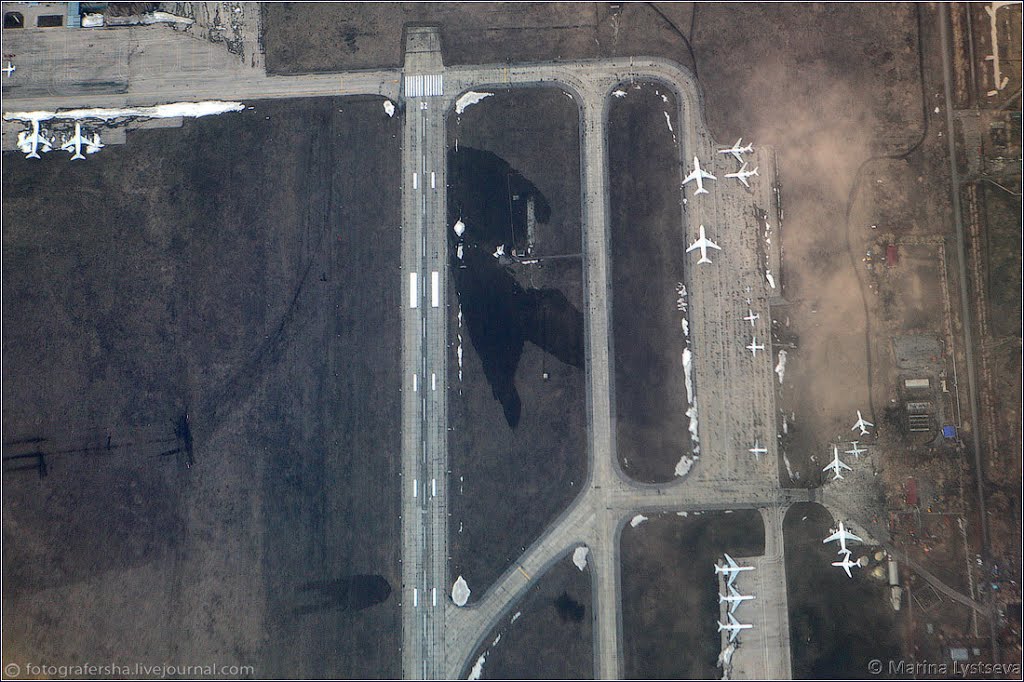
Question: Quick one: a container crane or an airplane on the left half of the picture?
airplane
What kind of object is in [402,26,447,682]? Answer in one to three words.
runway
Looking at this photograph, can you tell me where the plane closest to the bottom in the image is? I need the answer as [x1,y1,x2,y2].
[717,612,753,641]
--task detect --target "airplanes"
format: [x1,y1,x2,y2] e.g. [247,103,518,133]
[725,162,760,187]
[718,584,756,611]
[746,337,764,357]
[744,309,759,326]
[719,137,754,162]
[852,410,874,436]
[61,121,95,160]
[749,439,767,461]
[682,156,717,194]
[845,442,867,458]
[17,119,50,159]
[823,445,852,480]
[717,612,753,641]
[832,553,863,576]
[714,553,755,585]
[824,521,864,555]
[686,225,721,263]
